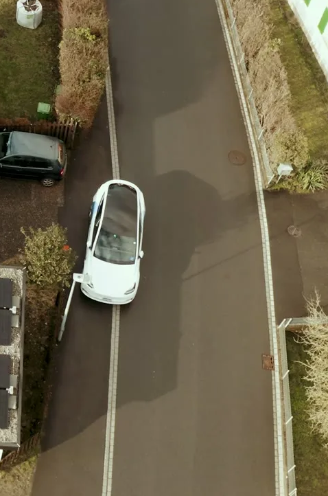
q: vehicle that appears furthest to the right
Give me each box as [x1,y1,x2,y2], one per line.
[79,181,146,307]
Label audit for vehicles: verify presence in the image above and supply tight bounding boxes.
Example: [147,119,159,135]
[0,136,66,190]
[79,181,146,307]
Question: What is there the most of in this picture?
paved ground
